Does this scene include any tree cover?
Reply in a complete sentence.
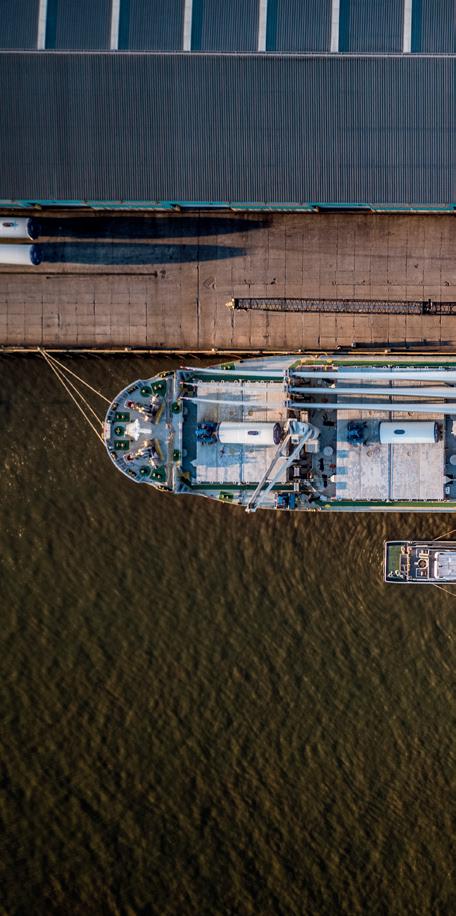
No, the scene doesn't show any tree cover.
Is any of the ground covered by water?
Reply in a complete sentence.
Yes, the picture does contain water.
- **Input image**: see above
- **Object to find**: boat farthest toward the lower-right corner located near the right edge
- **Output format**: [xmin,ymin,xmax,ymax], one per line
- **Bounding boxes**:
[382,540,456,584]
